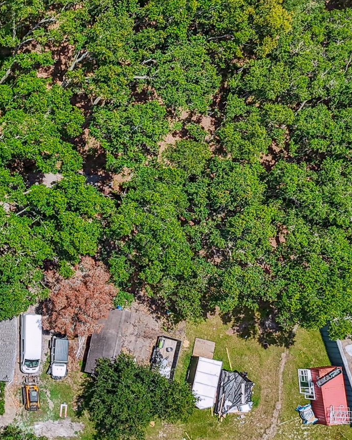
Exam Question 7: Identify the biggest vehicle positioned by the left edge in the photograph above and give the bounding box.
[17,313,42,373]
